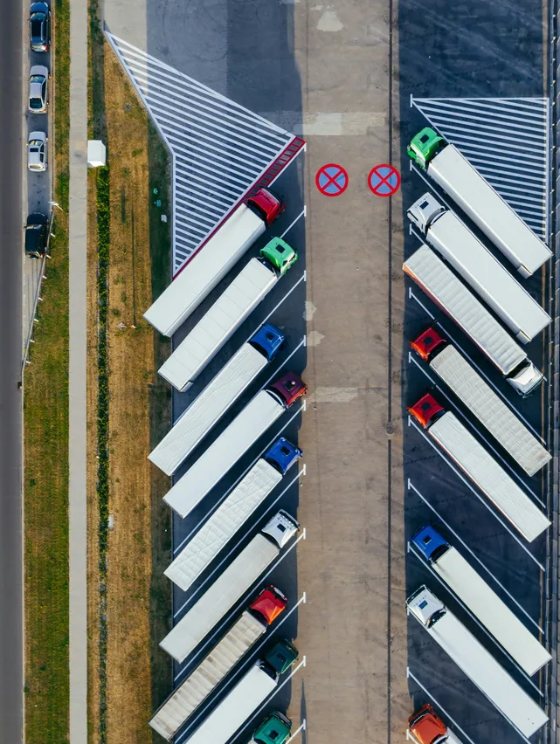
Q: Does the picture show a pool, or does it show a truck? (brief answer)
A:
truck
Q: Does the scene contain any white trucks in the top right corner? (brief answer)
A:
Yes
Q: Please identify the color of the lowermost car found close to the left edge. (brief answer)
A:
black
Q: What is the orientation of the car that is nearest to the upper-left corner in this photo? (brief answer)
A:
vertically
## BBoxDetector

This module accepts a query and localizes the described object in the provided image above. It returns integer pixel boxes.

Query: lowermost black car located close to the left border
[25,212,50,262]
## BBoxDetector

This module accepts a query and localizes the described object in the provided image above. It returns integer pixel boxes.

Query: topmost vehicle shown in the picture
[27,3,51,54]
